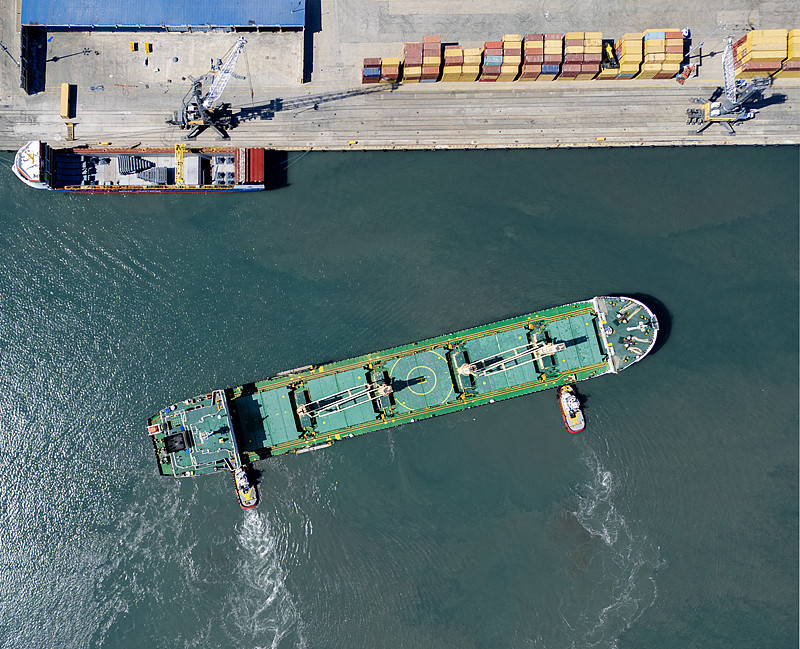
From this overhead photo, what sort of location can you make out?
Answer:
port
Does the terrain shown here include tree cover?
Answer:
No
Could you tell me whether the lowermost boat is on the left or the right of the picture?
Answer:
left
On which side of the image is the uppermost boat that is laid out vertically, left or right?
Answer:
right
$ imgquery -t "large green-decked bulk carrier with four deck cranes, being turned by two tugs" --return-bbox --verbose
[144,295,666,478]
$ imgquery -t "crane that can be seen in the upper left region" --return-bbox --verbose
[174,36,260,140]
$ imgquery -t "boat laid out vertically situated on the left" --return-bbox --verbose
[231,463,259,510]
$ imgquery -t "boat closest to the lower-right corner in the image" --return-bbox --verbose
[558,385,584,433]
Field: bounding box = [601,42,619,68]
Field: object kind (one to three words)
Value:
work vehicle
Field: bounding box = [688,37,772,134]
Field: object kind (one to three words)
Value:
crane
